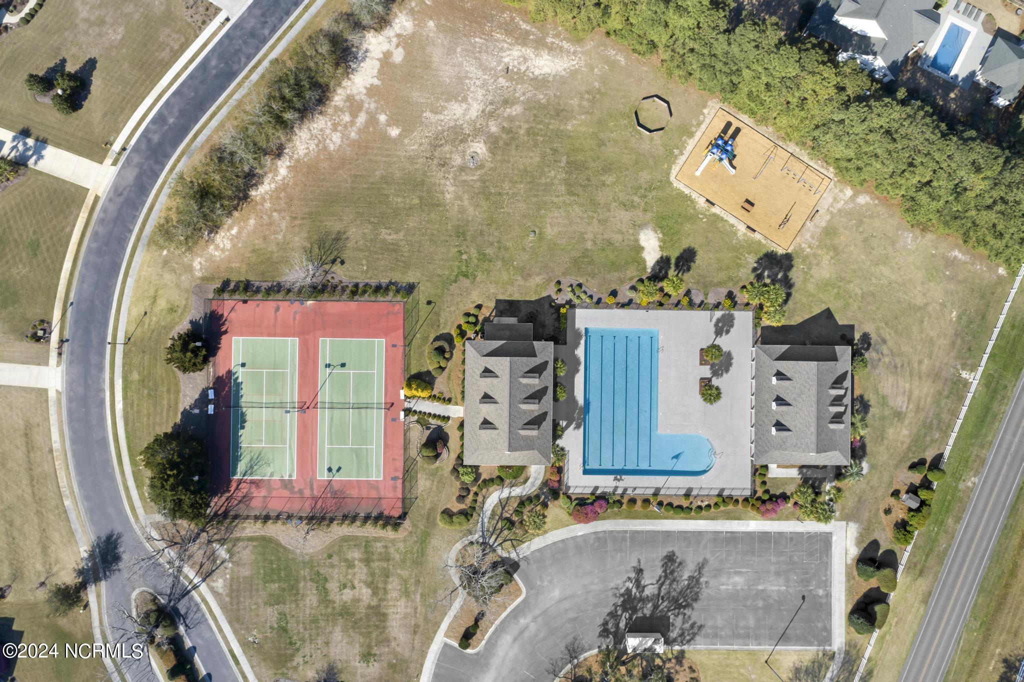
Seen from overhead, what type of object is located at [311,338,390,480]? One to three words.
tennis court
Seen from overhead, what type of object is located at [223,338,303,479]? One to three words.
tennis court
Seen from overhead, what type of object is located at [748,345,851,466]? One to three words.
building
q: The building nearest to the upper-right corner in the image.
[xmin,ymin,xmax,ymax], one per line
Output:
[964,34,1024,103]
